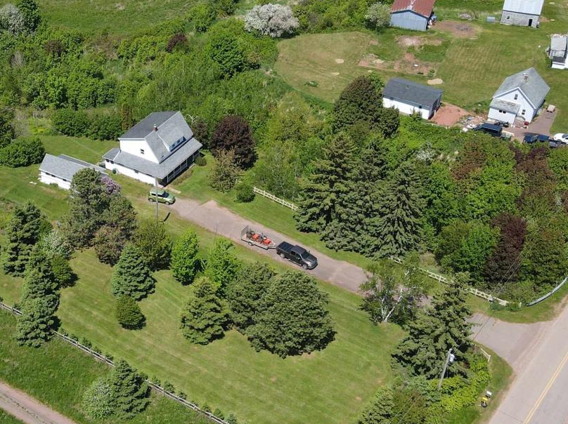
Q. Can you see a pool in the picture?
No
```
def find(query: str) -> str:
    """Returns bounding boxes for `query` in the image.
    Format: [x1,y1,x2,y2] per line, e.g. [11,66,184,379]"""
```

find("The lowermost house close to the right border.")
[487,66,550,123]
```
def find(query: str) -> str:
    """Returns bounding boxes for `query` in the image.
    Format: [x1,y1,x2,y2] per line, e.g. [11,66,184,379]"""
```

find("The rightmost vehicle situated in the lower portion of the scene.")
[277,243,320,270]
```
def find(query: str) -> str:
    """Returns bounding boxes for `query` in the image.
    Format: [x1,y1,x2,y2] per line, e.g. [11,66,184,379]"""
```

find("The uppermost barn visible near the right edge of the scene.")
[500,0,545,27]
